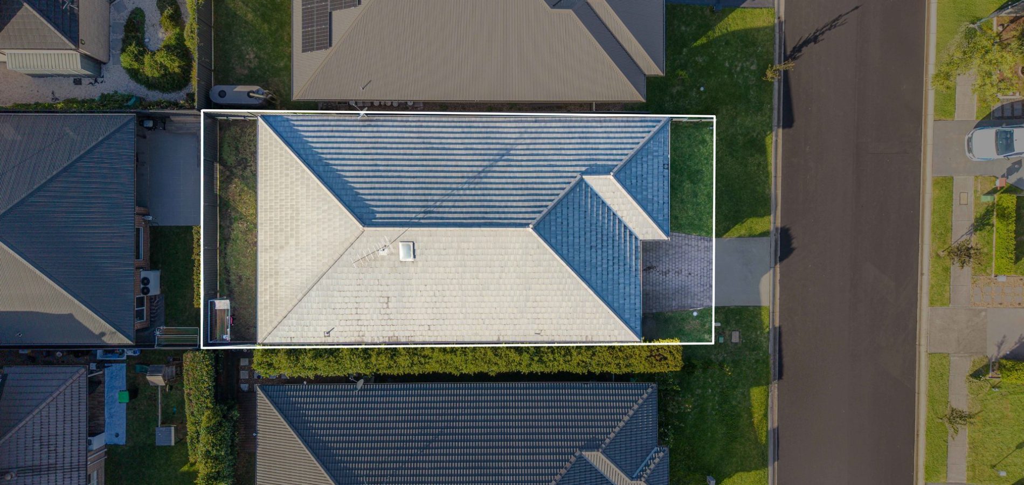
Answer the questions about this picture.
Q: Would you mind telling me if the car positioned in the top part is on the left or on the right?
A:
right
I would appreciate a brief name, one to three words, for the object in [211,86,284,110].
water tank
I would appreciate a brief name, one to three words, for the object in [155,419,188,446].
house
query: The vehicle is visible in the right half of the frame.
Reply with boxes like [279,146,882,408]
[964,123,1024,163]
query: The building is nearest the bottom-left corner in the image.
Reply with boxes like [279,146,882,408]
[0,364,114,485]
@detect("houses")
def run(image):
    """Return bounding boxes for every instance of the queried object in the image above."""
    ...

[0,364,114,485]
[254,380,670,485]
[290,0,667,103]
[0,0,110,62]
[155,419,188,446]
[255,113,672,345]
[0,111,150,346]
